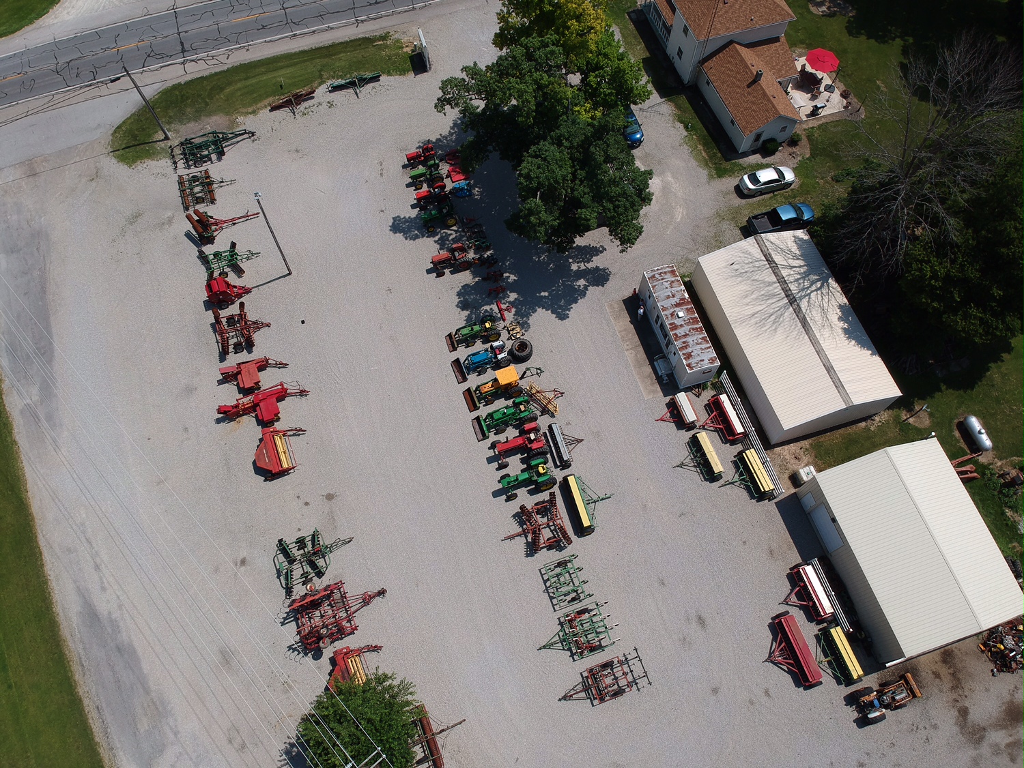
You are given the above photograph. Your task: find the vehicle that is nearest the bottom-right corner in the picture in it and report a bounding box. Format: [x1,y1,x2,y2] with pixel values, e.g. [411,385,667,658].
[850,670,924,726]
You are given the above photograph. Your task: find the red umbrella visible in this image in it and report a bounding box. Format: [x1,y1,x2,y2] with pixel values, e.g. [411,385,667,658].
[803,49,841,92]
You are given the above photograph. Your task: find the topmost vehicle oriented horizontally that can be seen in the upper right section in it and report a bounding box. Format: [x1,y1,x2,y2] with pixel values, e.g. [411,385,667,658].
[737,168,798,200]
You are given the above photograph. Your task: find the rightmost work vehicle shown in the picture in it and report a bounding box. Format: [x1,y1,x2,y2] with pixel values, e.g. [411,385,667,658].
[998,463,1024,496]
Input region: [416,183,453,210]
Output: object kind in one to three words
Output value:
work vehicle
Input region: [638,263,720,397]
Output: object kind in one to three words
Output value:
trailer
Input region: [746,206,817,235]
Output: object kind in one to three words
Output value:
truck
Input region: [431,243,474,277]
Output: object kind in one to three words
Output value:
work vehicle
